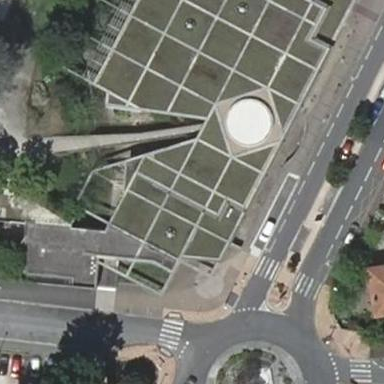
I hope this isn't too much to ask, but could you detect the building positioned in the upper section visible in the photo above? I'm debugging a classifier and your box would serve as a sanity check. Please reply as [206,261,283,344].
[73,0,356,293]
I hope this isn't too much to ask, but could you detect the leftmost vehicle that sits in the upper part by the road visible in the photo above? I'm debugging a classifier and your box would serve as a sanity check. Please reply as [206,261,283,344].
[340,136,354,158]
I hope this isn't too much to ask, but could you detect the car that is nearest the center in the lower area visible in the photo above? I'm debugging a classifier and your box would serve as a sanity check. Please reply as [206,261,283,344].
[258,220,275,242]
